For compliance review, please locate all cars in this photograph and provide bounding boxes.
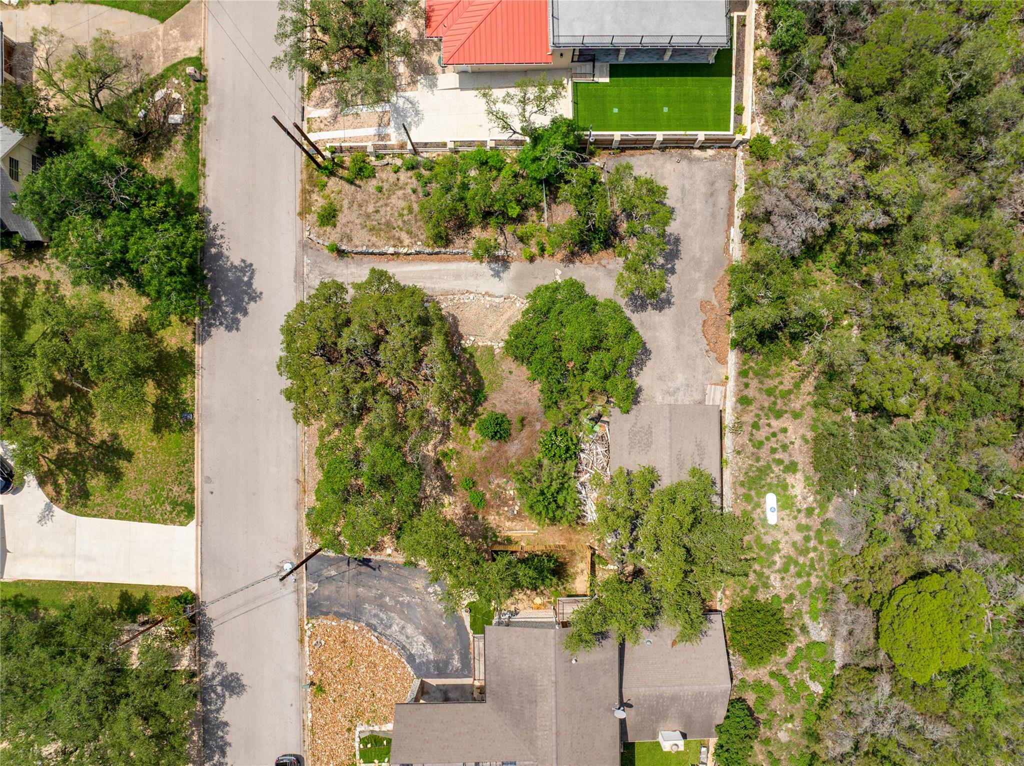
[0,463,11,490]
[277,754,301,766]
